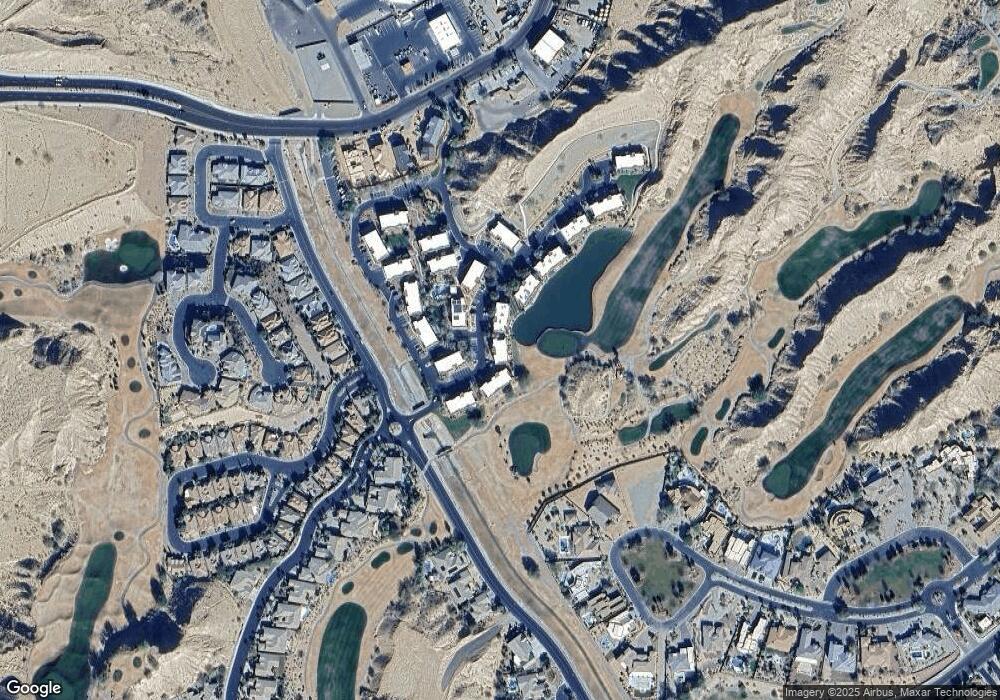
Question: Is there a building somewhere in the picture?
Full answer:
Yes, the frame does contain a building.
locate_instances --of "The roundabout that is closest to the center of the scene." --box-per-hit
[379,407,413,447]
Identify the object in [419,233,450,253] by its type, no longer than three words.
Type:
building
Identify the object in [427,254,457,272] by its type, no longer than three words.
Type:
building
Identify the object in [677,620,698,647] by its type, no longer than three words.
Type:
house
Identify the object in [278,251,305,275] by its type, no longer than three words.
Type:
house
